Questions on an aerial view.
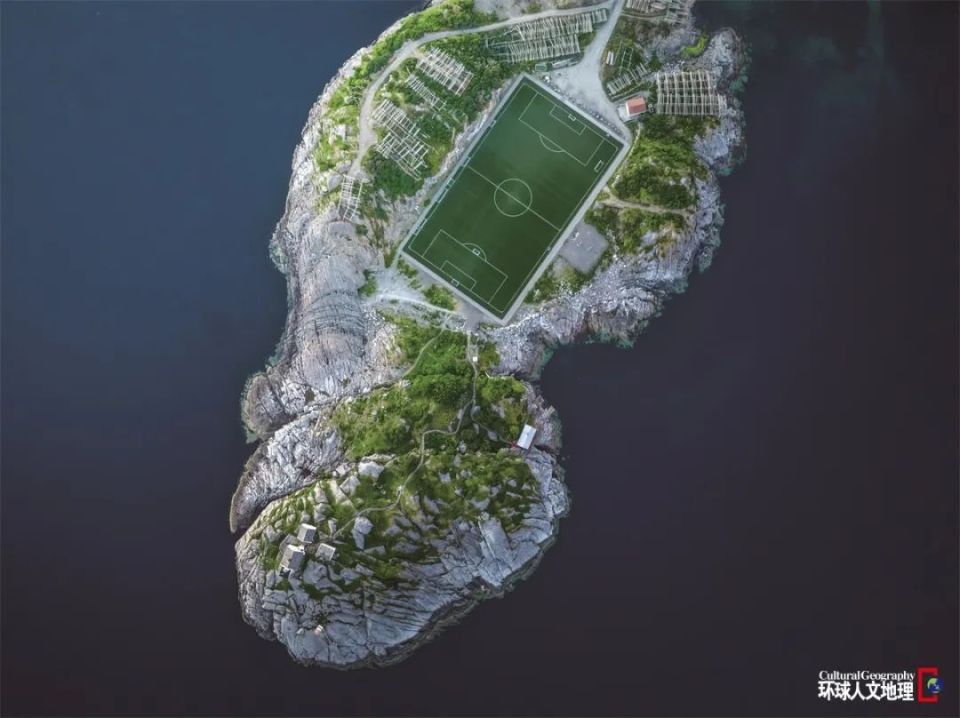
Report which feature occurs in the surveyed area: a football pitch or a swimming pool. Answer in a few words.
football pitch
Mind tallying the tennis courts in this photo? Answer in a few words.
none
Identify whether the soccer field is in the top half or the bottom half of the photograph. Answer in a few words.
top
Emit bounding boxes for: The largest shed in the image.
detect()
[280,545,306,572]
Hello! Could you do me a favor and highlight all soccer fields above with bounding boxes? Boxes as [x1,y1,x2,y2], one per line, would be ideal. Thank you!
[398,71,631,326]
